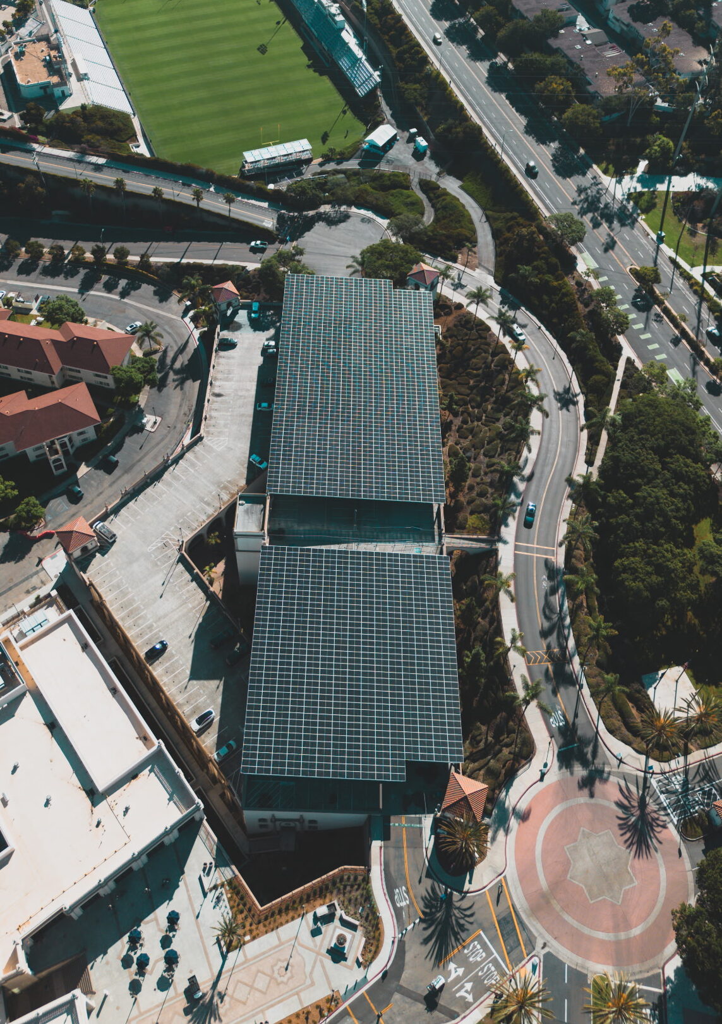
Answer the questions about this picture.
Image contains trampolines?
No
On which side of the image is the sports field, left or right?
left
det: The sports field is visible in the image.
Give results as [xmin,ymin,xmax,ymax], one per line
[97,0,365,175]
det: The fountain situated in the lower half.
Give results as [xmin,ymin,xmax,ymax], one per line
[331,928,352,953]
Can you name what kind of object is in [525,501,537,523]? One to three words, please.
vehicle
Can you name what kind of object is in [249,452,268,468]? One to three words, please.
car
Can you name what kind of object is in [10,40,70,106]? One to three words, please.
building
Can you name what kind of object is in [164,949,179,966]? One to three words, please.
umbrella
